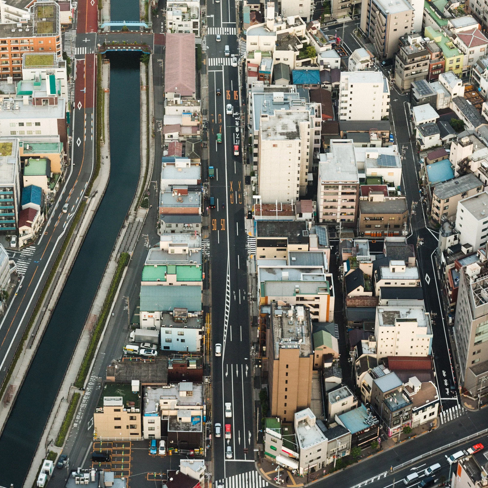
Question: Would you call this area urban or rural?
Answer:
urban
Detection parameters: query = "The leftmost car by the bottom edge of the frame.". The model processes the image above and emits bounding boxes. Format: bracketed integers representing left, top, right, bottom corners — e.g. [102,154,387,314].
[55,453,69,470]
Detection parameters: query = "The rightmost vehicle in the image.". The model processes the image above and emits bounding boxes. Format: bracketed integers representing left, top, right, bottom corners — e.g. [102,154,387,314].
[466,443,486,455]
